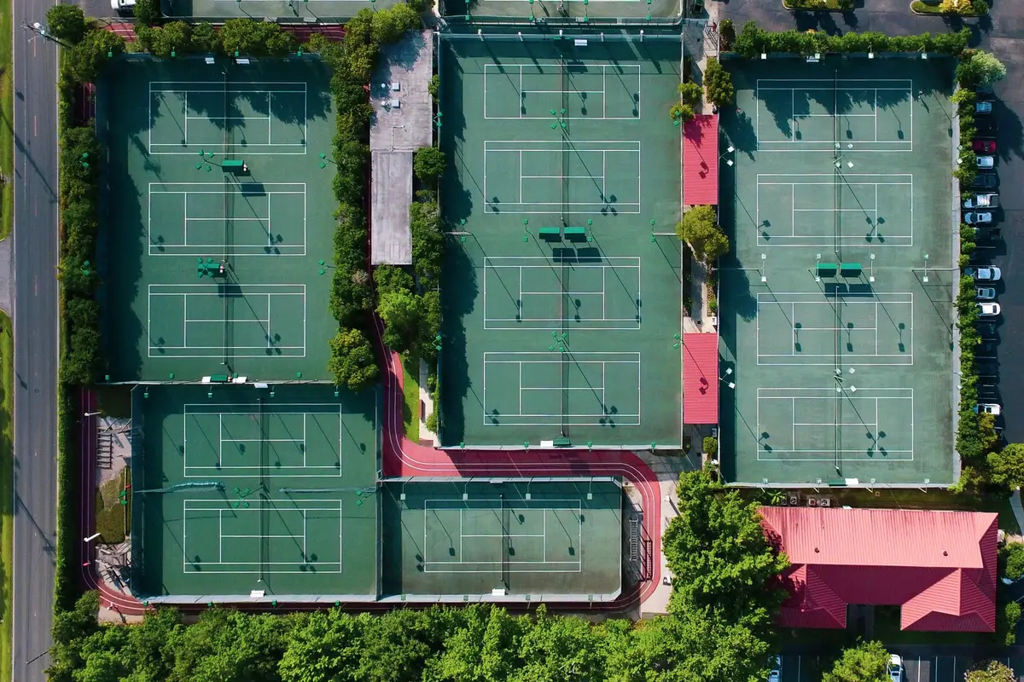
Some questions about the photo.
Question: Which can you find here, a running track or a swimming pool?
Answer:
running track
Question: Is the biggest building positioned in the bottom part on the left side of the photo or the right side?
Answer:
right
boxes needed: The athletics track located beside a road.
[76,22,661,616]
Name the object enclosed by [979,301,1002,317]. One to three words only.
car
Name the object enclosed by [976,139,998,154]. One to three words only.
car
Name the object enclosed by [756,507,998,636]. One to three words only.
building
